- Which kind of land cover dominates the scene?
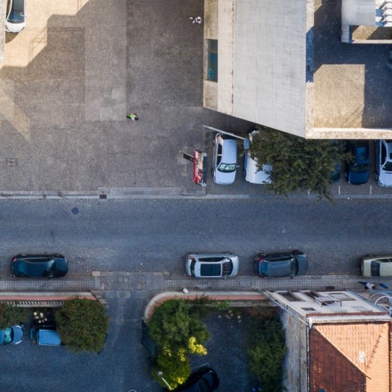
paved ground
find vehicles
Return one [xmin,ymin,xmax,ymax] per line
[252,249,308,279]
[211,131,242,186]
[183,251,240,281]
[373,139,392,187]
[0,323,28,351]
[6,0,31,33]
[345,139,374,186]
[174,361,222,392]
[359,252,392,277]
[30,322,77,352]
[10,253,68,282]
